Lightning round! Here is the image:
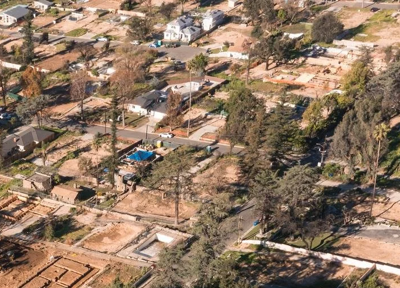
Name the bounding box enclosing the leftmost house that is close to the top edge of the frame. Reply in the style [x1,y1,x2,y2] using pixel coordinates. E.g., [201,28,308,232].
[0,5,30,25]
